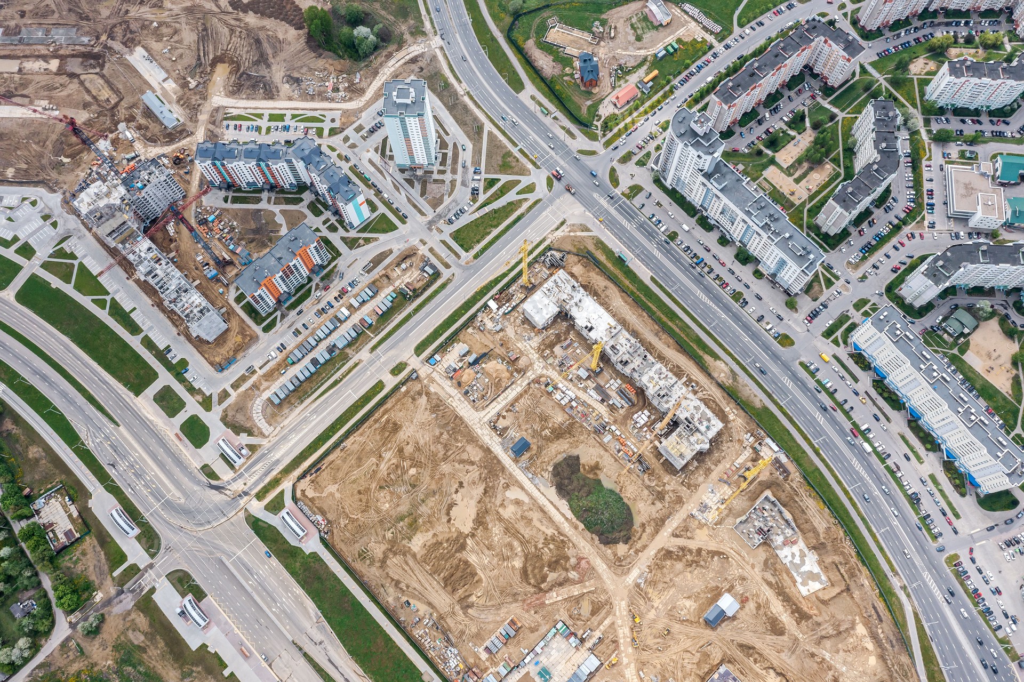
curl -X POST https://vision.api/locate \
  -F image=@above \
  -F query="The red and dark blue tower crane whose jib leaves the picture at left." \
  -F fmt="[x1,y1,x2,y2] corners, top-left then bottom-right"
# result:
[0,96,128,180]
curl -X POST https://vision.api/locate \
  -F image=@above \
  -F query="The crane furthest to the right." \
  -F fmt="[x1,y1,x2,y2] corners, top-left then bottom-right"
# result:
[712,445,782,518]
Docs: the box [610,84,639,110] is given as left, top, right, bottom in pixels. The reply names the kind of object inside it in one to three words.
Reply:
house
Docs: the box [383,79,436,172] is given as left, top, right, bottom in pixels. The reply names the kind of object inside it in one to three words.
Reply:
building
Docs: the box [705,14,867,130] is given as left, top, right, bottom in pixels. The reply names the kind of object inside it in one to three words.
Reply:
building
